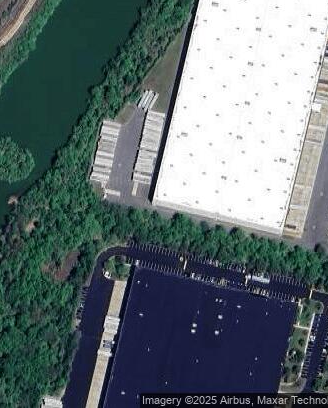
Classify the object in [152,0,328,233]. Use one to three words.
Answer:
warehouse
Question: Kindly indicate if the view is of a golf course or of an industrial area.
industrial area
